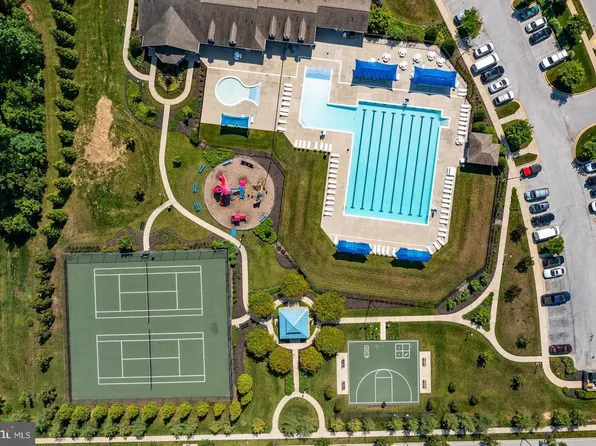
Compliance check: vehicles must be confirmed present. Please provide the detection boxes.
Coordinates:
[527,203,549,213]
[516,8,539,23]
[471,53,499,72]
[488,79,509,93]
[540,293,569,305]
[547,344,571,355]
[540,256,563,267]
[584,176,596,186]
[527,29,551,44]
[524,189,548,200]
[480,66,503,82]
[530,214,554,225]
[471,44,493,58]
[523,19,545,34]
[519,164,542,176]
[542,268,565,278]
[539,51,569,69]
[450,9,471,25]
[531,228,560,241]
[492,90,514,105]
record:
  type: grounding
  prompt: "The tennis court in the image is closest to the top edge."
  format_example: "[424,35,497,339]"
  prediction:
[66,249,229,327]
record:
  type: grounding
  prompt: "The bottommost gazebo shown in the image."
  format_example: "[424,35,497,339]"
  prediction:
[279,307,309,338]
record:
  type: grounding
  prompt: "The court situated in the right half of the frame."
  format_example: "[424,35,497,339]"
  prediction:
[348,340,419,404]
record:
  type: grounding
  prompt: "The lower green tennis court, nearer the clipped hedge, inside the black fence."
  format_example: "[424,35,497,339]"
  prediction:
[69,324,232,401]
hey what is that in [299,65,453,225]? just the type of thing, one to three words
swimming pool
